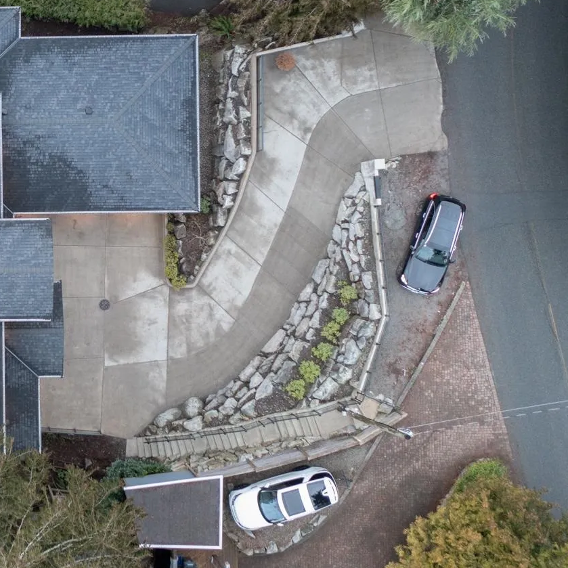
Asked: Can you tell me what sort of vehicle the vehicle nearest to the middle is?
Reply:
car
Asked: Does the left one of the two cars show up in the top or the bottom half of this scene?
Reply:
bottom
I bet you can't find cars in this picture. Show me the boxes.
[395,193,469,297]
[227,463,339,530]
